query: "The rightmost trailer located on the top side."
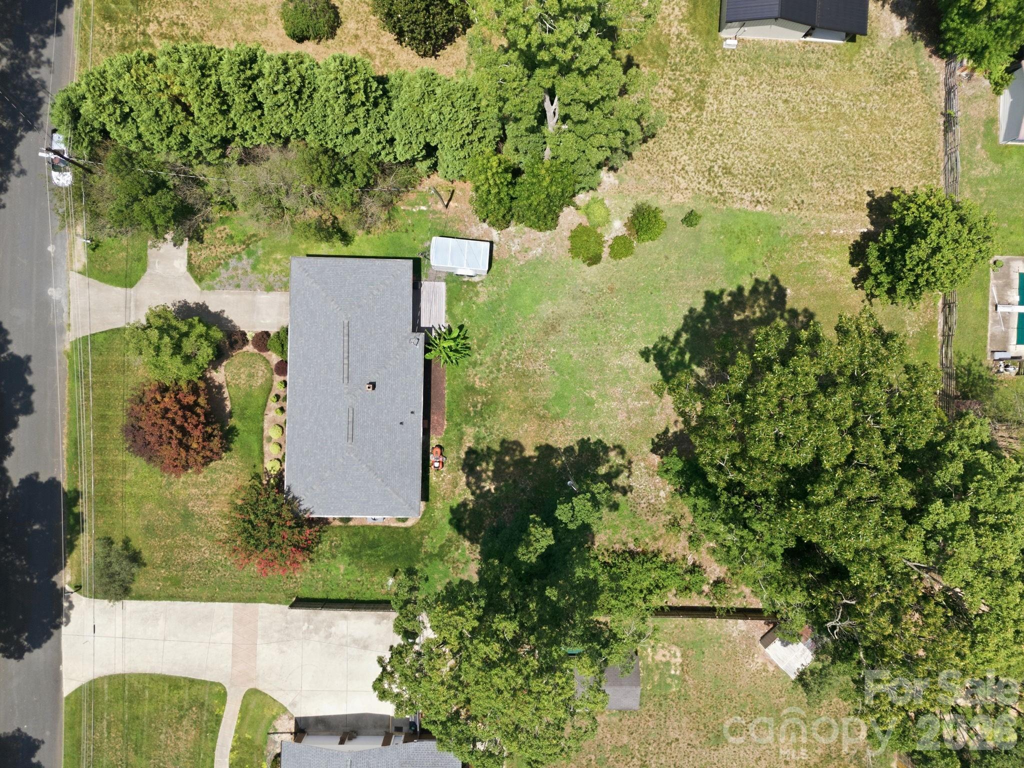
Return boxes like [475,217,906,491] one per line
[419,238,490,275]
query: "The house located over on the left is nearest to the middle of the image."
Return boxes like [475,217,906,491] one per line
[284,256,437,518]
